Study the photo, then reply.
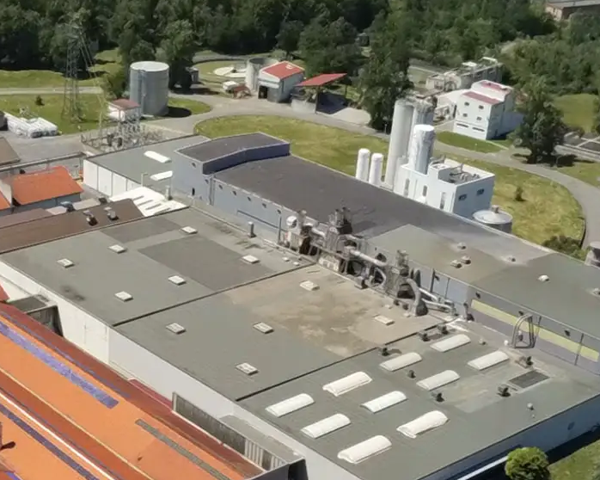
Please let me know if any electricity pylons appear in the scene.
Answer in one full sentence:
Yes, you can see an electricity pylon in this photo.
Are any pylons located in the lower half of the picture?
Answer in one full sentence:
No, there's no pylon to be seen in the lower half of the picture.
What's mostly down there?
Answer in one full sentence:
For the most part, this view shows buildings.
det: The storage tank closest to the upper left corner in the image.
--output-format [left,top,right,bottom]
[130,62,170,113]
